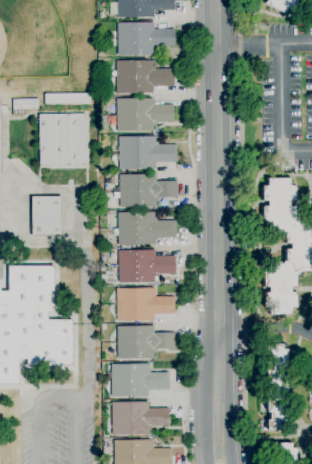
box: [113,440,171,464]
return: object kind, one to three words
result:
house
